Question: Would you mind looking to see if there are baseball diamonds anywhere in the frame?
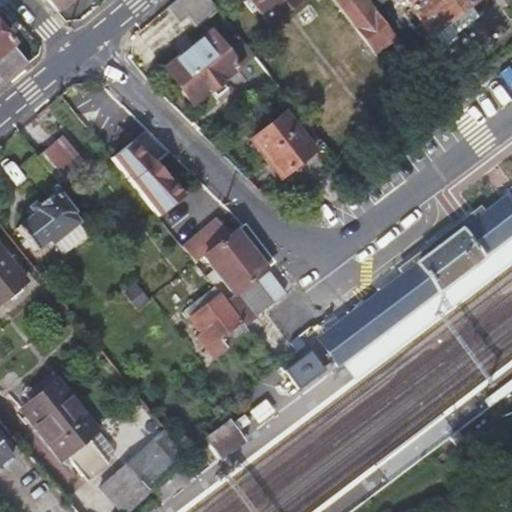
No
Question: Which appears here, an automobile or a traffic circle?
automobile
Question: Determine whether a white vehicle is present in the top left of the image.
Yes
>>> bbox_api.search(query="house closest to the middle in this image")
[184,216,286,324]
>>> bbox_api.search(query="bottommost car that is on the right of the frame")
[298,269,320,288]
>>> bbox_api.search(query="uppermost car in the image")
[18,8,36,28]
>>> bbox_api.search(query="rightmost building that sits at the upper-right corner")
[410,0,480,45]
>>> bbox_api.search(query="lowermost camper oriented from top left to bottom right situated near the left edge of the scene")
[0,158,28,188]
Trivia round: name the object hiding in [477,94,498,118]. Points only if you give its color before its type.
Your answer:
white vehicle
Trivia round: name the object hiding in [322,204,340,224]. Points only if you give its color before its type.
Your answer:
white car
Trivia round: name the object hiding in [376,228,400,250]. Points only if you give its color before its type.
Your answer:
white vehicle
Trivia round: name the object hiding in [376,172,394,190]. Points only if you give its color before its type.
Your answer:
gray car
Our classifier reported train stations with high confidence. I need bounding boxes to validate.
[318,187,512,389]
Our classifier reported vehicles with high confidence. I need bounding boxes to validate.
[356,243,378,262]
[340,219,361,236]
[0,158,28,188]
[298,269,320,288]
[166,202,188,222]
[477,94,498,118]
[322,204,340,224]
[18,8,36,28]
[396,156,413,176]
[376,228,400,250]
[424,135,440,155]
[489,80,512,108]
[178,218,198,238]
[399,208,422,229]
[500,64,512,88]
[28,482,49,500]
[376,172,394,190]
[103,64,130,84]
[468,104,486,126]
